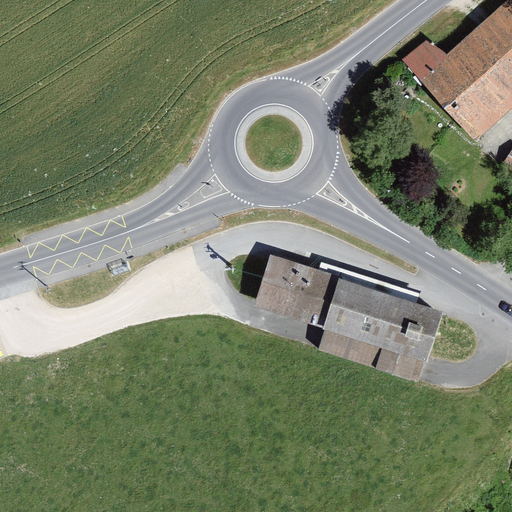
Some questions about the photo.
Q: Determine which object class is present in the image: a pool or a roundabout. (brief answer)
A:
roundabout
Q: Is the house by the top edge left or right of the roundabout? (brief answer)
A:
to the right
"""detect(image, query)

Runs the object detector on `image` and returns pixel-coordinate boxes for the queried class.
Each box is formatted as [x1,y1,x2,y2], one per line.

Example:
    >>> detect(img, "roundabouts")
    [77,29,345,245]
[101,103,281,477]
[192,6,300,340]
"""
[208,76,340,208]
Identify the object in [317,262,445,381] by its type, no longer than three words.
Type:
building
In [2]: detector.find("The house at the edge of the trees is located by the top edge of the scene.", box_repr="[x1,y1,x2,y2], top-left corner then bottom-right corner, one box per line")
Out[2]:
[403,0,512,140]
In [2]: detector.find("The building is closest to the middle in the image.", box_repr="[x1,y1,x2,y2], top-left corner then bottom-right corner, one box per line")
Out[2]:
[255,254,332,325]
